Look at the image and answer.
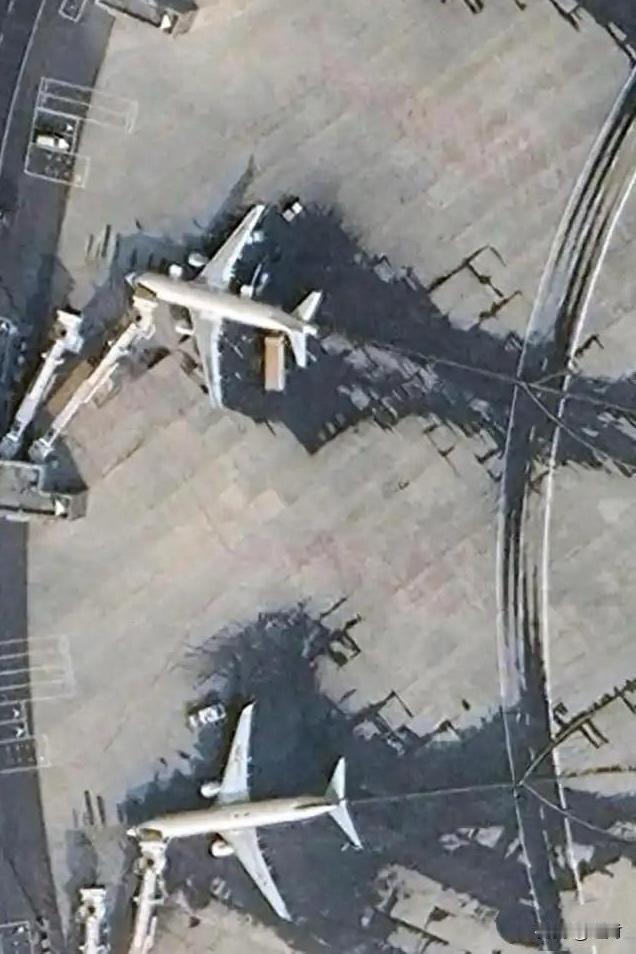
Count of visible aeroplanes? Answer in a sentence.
The number of aeroplanes here is 2.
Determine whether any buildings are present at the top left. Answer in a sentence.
Yes, the scene does show a building at the top left.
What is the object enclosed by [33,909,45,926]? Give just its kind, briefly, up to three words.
vehicle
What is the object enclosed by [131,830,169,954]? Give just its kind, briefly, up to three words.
jet bridge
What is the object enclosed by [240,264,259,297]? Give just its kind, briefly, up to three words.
work vehicle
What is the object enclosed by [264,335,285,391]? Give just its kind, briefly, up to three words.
vehicle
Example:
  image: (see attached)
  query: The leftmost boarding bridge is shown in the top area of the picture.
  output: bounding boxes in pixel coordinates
[0,307,82,457]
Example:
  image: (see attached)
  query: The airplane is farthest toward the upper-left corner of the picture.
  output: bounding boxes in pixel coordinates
[128,205,325,406]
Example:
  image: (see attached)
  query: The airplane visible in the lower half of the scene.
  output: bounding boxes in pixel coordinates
[129,705,359,919]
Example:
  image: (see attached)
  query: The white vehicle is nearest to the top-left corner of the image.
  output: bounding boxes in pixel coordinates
[36,133,69,147]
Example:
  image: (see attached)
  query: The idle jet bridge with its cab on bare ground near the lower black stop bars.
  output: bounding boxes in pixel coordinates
[75,888,109,954]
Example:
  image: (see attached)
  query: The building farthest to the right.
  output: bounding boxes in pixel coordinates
[95,0,193,39]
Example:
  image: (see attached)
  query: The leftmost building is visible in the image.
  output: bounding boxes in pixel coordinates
[0,460,88,521]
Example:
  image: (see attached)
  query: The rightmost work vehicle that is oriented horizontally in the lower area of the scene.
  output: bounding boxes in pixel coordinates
[188,706,225,726]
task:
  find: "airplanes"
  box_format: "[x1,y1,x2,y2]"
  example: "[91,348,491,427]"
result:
[128,205,325,406]
[129,705,359,919]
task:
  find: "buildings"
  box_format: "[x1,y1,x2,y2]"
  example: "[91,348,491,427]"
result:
[95,0,193,39]
[0,460,88,521]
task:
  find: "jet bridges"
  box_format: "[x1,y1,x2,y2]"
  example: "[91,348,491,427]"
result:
[75,888,109,954]
[131,830,169,954]
[29,283,158,461]
[0,307,82,457]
